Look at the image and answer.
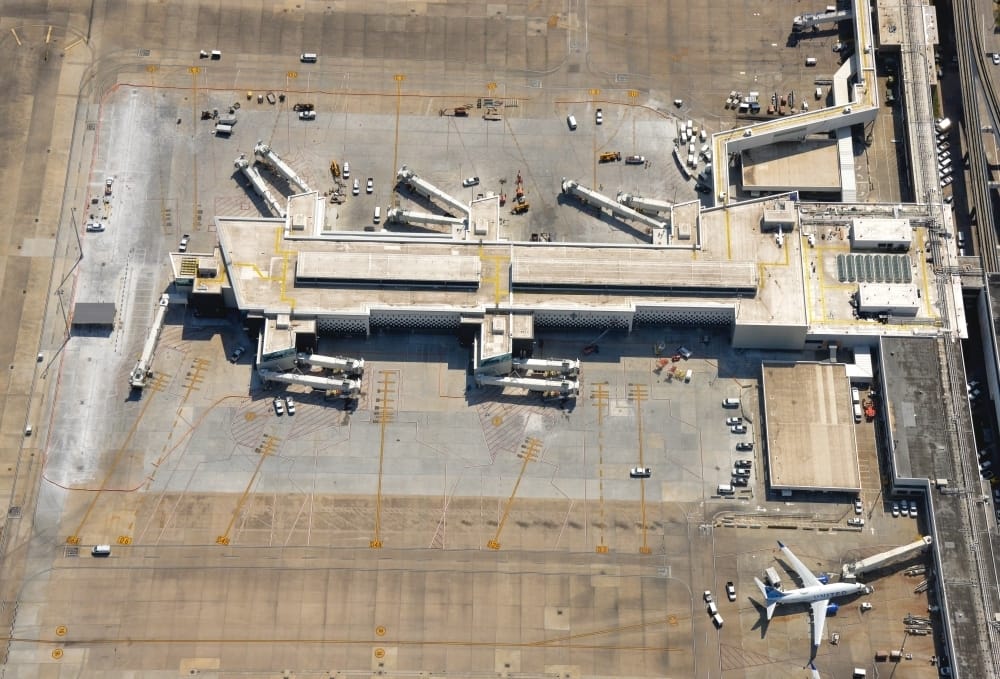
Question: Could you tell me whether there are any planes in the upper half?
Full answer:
No, no plane can be made out in the upper half.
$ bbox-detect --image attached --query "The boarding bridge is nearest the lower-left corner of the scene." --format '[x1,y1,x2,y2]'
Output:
[130,295,188,397]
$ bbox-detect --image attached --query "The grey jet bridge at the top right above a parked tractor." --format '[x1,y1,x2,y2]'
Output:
[784,14,849,34]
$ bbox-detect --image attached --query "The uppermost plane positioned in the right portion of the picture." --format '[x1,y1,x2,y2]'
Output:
[758,542,865,647]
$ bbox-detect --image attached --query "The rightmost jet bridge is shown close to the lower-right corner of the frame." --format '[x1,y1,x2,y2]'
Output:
[842,535,934,587]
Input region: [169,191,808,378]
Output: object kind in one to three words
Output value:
building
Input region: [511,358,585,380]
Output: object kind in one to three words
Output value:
jet bridge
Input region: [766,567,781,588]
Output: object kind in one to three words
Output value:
vehicle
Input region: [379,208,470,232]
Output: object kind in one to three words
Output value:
jet bridge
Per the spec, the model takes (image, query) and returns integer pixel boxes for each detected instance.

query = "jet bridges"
[258,369,367,401]
[553,182,668,230]
[379,208,470,232]
[609,193,675,217]
[297,353,370,380]
[474,372,585,401]
[229,156,287,220]
[511,358,585,380]
[249,143,313,194]
[784,14,849,34]
[391,169,470,220]
[130,295,188,397]
[842,535,934,587]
